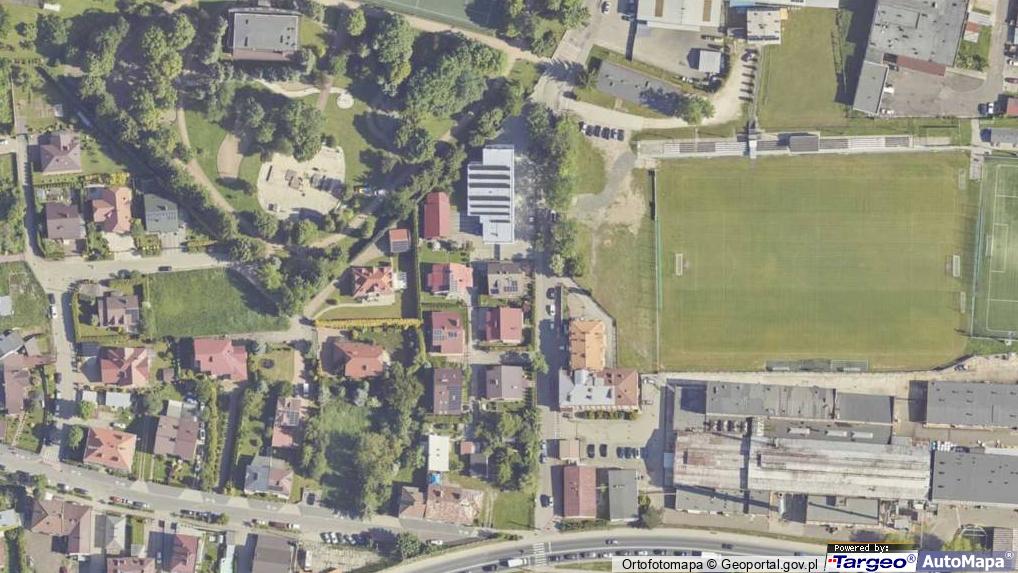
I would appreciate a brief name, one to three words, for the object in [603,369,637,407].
house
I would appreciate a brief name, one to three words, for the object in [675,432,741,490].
building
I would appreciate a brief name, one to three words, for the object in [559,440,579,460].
shed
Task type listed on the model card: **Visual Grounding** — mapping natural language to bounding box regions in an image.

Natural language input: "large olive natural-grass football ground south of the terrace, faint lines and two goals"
[657,152,974,372]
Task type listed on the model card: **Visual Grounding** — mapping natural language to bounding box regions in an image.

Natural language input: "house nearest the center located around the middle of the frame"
[488,263,525,298]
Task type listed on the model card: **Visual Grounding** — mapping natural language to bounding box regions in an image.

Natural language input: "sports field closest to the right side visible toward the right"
[973,152,1018,340]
